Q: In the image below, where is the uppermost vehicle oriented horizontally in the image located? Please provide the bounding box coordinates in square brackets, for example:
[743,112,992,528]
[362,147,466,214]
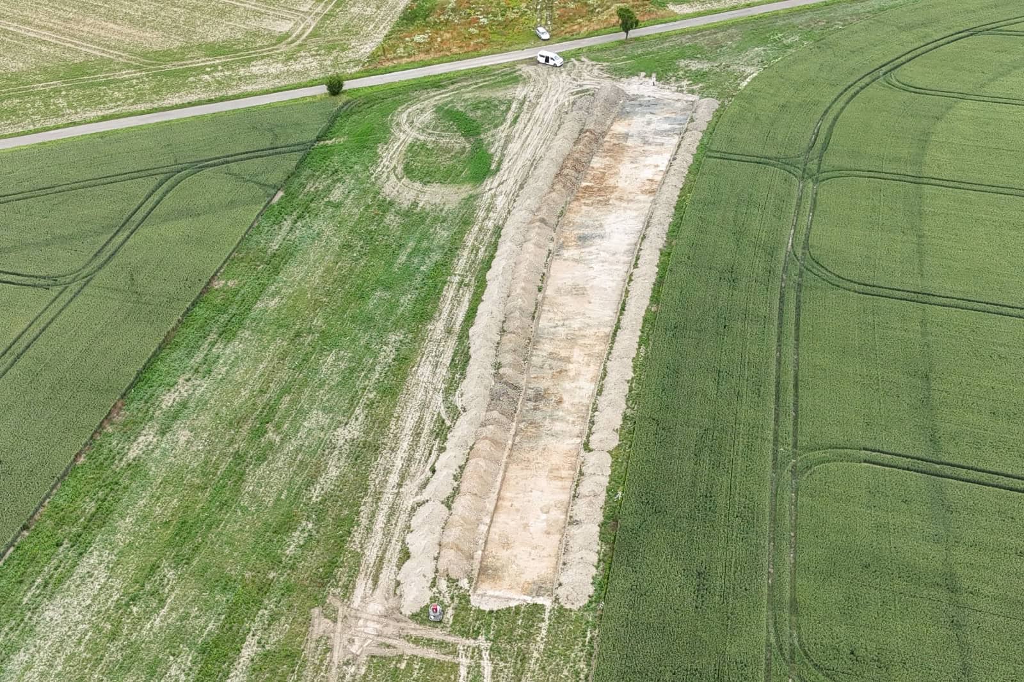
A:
[538,49,566,66]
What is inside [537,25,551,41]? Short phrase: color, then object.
white car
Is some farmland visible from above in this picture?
Yes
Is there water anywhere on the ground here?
No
